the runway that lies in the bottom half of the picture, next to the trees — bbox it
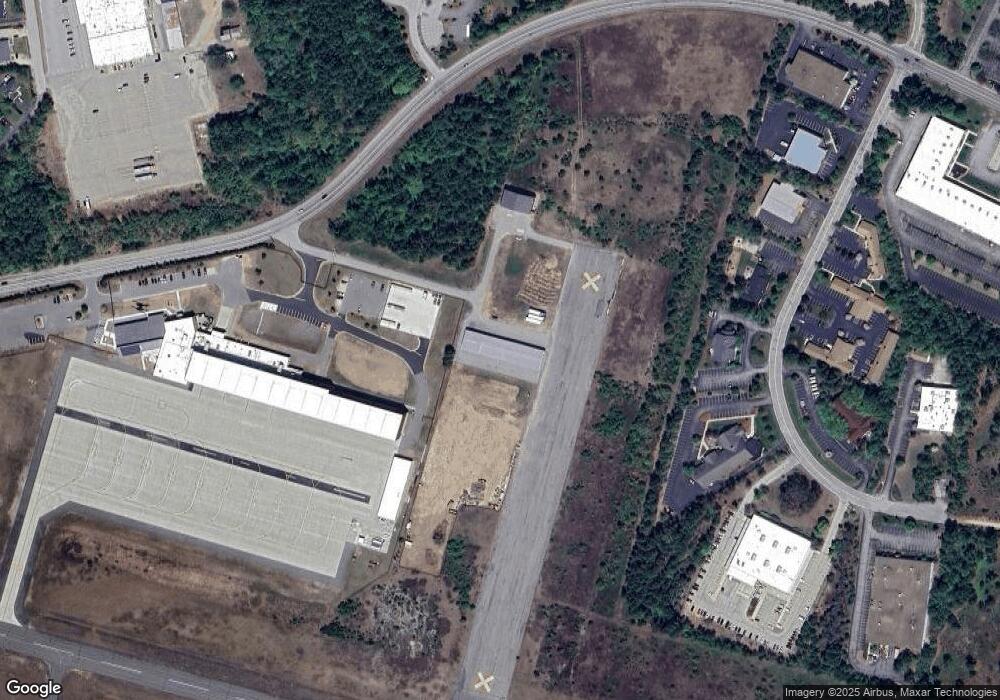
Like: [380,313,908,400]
[452,245,621,700]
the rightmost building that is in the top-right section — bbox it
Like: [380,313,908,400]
[896,116,1000,243]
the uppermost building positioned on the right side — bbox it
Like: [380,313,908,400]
[785,49,851,107]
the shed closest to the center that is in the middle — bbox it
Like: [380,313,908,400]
[461,331,544,372]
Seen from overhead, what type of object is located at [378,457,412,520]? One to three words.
shed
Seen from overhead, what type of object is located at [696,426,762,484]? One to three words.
building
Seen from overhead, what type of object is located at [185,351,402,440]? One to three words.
hangar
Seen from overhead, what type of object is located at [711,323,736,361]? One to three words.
house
